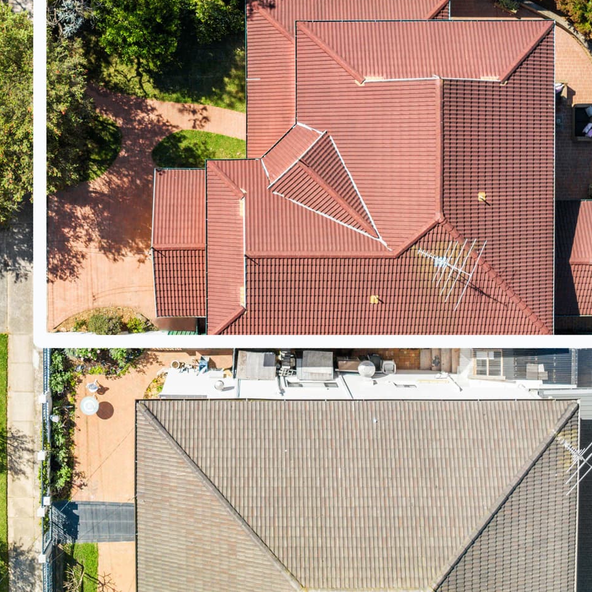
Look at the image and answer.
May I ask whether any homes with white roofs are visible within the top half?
No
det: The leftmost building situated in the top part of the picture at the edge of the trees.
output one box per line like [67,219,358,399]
[148,0,558,344]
